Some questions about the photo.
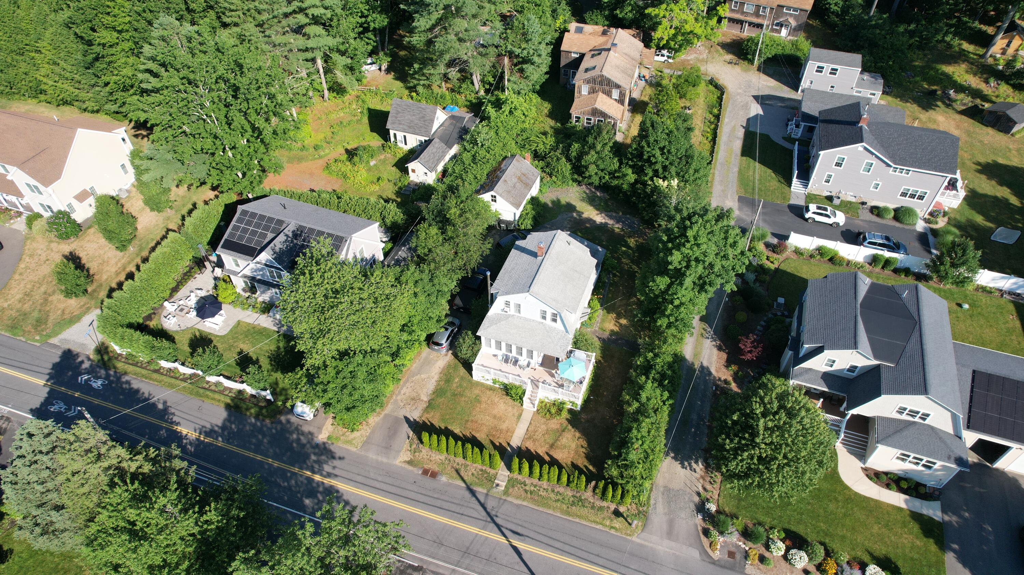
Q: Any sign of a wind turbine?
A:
No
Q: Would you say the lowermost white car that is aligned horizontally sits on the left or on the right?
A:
right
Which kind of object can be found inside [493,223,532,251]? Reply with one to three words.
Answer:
car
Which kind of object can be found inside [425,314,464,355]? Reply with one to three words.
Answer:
car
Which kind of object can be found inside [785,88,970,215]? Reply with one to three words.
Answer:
house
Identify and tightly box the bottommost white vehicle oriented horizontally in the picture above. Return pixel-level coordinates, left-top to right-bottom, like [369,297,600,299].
[807,199,851,225]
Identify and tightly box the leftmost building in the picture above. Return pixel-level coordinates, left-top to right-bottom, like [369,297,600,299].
[0,104,145,226]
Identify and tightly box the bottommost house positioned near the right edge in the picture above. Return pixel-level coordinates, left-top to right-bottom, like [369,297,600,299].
[773,271,1024,488]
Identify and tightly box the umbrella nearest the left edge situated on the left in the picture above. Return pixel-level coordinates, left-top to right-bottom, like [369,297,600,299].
[194,298,224,325]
